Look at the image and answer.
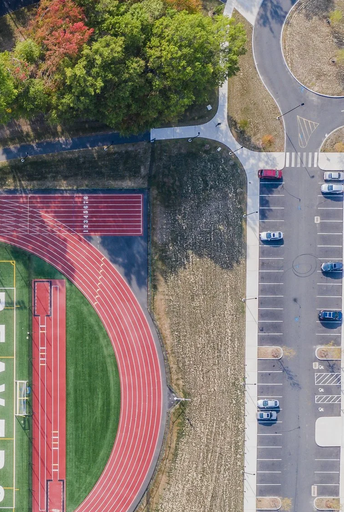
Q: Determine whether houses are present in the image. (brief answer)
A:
No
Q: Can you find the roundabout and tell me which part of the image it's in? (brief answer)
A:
top right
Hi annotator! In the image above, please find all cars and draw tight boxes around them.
[258,399,281,409]
[323,182,344,192]
[324,170,344,180]
[257,411,280,420]
[321,310,344,320]
[260,167,284,178]
[322,261,344,271]
[261,230,284,240]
